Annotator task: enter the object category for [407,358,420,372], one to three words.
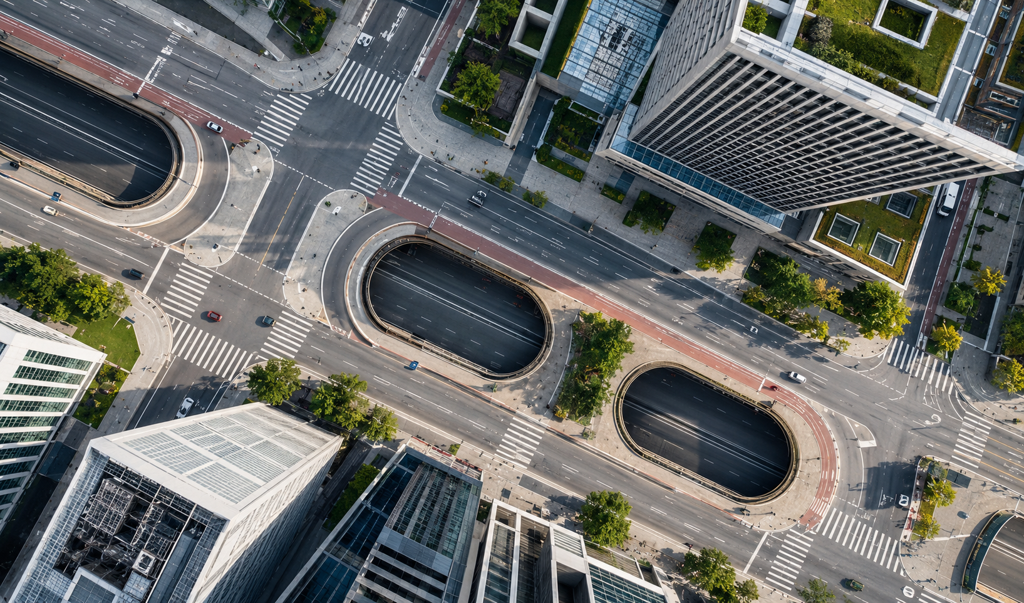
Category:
vehicle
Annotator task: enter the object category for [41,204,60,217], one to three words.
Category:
vehicle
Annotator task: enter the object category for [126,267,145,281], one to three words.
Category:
car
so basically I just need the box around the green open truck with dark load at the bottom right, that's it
[845,576,867,593]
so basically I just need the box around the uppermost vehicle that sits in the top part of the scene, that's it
[356,33,370,48]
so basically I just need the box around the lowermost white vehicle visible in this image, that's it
[897,493,909,507]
